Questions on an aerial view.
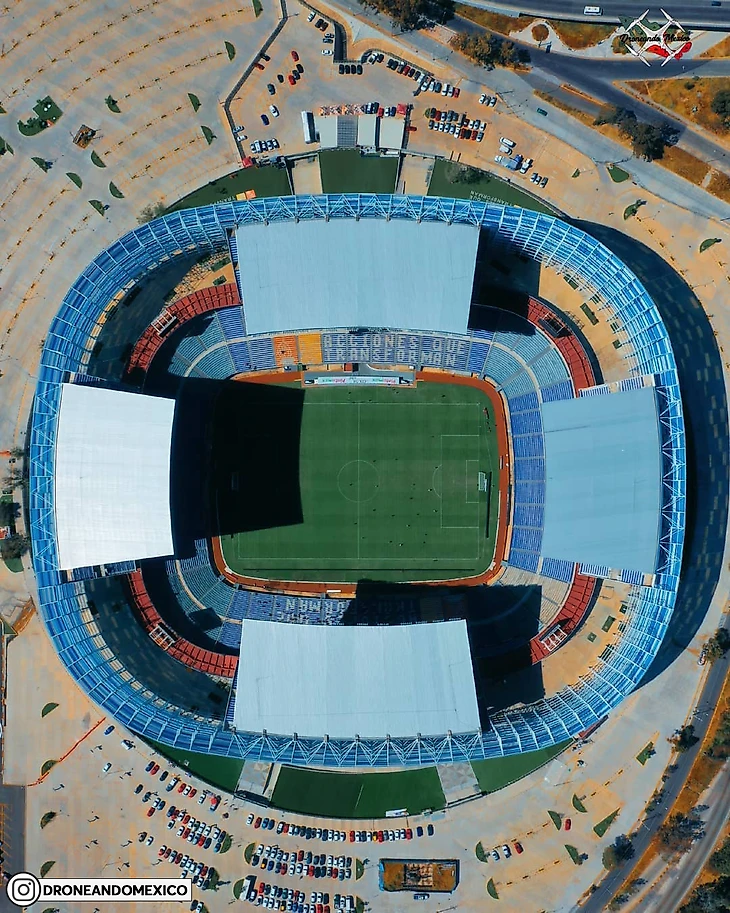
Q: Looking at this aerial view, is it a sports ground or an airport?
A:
sports ground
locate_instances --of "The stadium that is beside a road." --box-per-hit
[31,194,685,765]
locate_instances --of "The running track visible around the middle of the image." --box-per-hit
[204,364,513,596]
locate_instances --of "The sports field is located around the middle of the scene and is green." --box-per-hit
[218,382,498,580]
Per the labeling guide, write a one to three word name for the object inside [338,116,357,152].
building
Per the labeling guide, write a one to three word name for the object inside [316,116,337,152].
building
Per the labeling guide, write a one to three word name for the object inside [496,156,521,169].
vehicle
